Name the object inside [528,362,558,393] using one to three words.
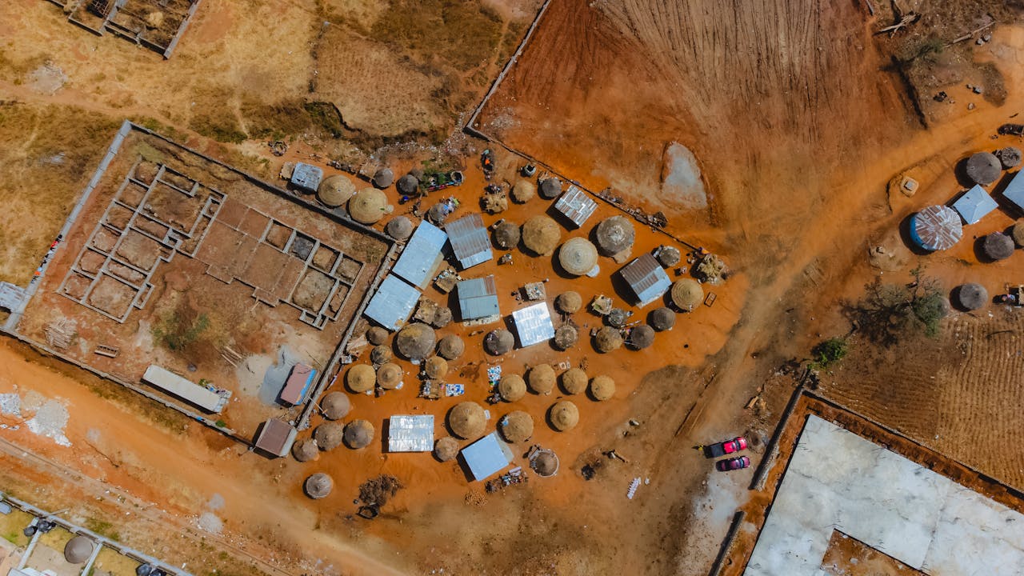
shed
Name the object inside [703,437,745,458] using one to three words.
truck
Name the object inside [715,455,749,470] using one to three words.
car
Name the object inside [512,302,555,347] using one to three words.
house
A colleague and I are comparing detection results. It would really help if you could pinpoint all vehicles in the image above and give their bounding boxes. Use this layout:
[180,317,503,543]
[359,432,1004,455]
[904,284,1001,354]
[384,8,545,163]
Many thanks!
[703,437,745,458]
[715,455,749,470]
